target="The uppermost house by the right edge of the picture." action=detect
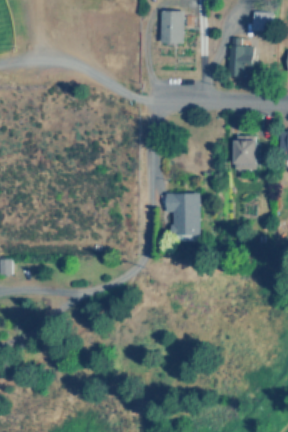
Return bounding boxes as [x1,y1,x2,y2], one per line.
[254,11,276,34]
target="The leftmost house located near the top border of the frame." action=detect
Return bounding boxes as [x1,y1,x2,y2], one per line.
[161,10,186,44]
